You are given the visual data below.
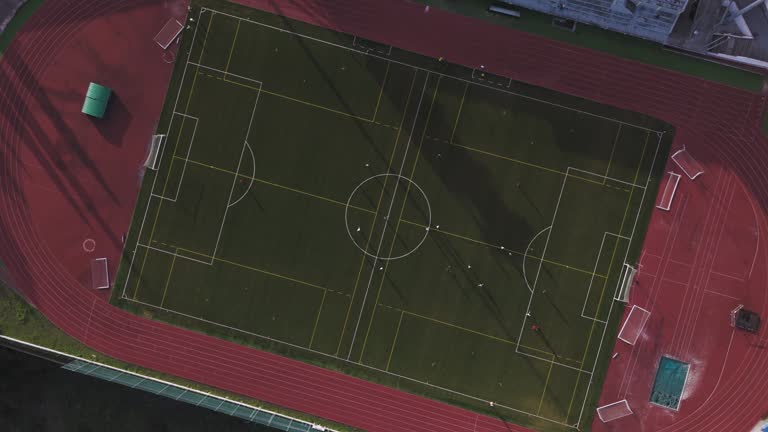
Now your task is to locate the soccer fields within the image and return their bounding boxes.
[105,0,681,432]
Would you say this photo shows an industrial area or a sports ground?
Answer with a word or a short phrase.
sports ground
